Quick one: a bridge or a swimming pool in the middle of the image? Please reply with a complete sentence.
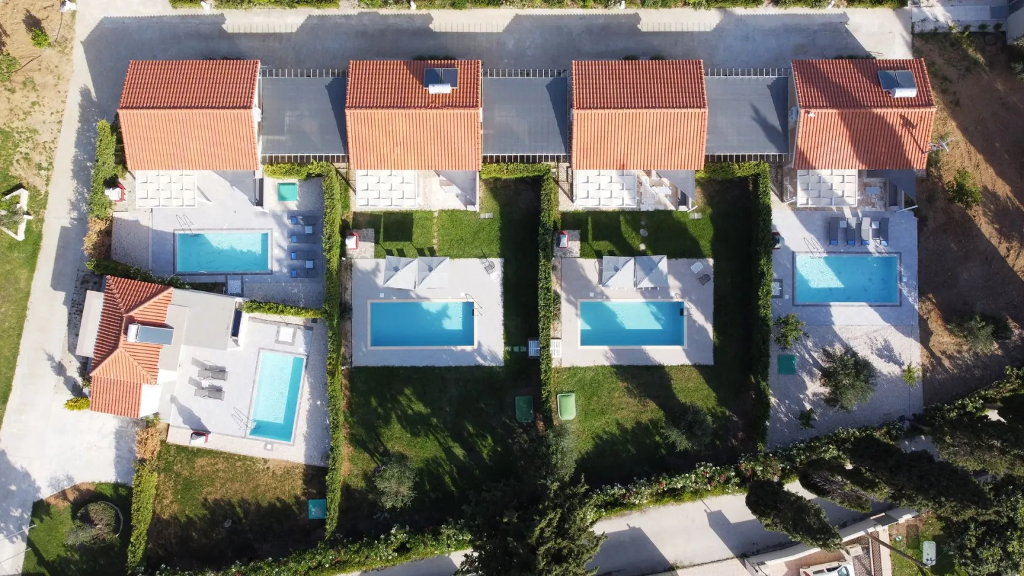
Looking in the middle of the image, you will find a swimming pool.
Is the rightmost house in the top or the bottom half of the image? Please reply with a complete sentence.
The top half of the photo is where the rightmost house is.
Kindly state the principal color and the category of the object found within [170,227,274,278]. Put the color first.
blue swimming pool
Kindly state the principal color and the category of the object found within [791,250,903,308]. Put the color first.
blue swimming pool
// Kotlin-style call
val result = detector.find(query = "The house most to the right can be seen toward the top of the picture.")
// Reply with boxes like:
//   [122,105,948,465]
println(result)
[780,59,938,171]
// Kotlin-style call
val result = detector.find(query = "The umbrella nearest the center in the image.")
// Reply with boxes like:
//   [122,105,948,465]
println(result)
[416,256,450,290]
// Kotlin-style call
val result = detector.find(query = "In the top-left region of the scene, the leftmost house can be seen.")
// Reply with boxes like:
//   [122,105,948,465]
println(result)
[116,59,273,171]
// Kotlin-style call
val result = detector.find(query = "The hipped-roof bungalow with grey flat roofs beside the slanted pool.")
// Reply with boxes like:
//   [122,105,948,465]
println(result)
[76,275,261,418]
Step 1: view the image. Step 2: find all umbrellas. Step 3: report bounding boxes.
[383,255,417,290]
[416,256,450,290]
[601,255,635,289]
[635,254,669,288]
